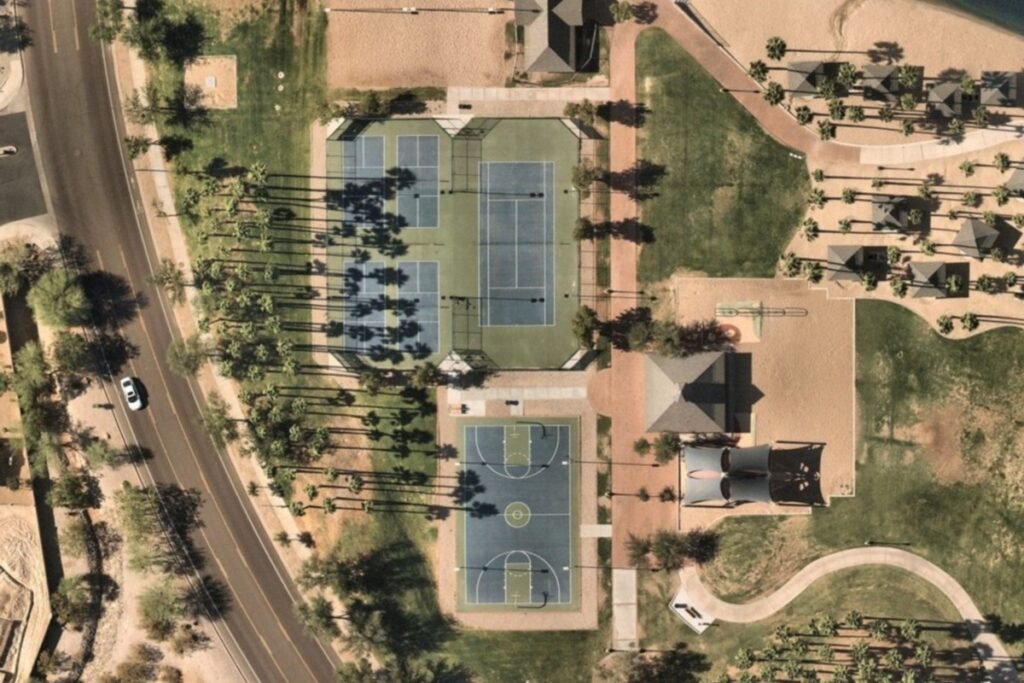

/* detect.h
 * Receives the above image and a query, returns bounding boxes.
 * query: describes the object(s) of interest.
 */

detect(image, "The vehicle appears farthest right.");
[121,377,139,411]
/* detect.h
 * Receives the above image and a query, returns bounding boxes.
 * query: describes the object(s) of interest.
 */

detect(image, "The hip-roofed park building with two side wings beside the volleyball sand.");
[514,0,582,72]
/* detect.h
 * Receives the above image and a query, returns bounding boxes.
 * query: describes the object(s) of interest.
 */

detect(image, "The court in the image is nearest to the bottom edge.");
[456,417,580,612]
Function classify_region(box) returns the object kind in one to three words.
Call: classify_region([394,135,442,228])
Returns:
sports court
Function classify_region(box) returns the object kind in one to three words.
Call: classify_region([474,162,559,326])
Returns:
tennis court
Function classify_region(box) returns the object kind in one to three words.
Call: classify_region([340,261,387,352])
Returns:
sports court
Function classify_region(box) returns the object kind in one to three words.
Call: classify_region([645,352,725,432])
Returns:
building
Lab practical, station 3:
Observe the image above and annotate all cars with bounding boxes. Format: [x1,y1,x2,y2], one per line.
[0,144,16,158]
[121,377,139,411]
